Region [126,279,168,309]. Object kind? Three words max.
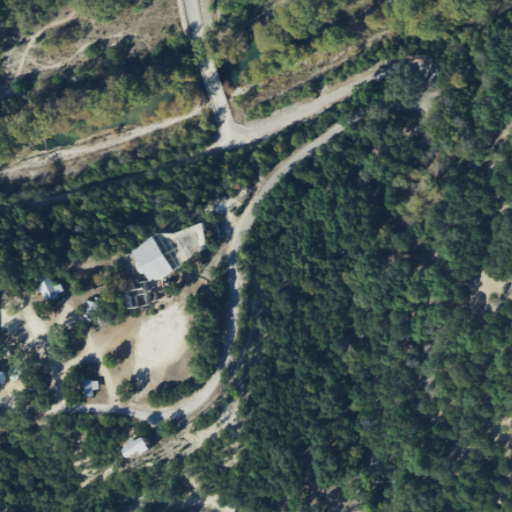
building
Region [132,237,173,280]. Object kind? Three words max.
building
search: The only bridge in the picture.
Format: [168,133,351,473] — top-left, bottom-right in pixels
[196,44,225,103]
